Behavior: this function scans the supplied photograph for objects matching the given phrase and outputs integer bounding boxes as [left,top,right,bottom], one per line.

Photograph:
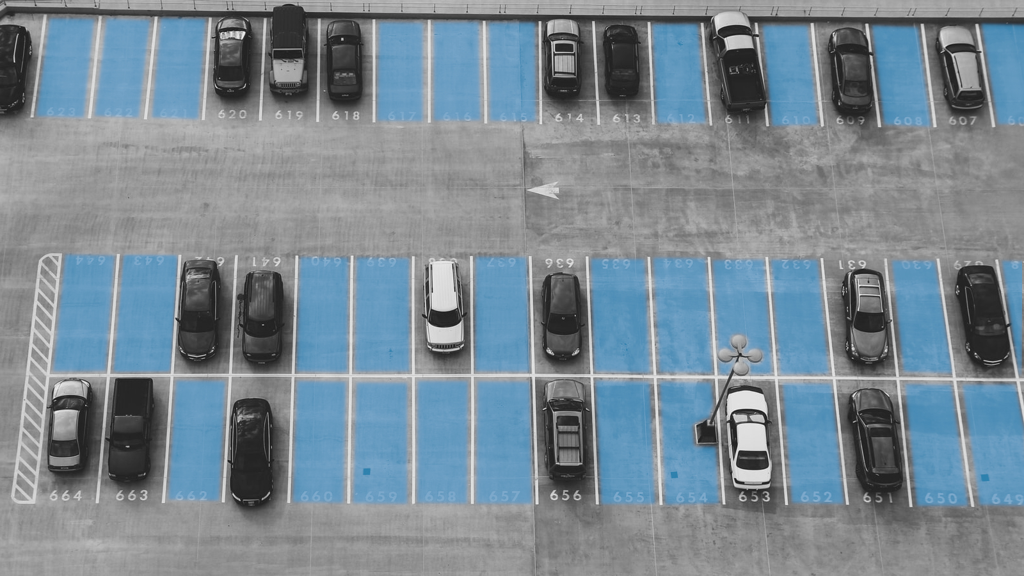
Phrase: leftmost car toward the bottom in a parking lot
[43,379,94,472]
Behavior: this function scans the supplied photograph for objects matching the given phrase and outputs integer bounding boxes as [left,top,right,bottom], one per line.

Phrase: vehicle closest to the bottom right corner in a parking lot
[848,389,906,491]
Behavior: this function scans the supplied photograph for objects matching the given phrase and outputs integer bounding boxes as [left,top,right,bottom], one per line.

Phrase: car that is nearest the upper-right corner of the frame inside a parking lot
[935,27,984,110]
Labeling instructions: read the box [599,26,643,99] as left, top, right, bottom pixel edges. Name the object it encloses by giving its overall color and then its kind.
black car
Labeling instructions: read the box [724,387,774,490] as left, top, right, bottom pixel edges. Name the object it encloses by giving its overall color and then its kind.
white car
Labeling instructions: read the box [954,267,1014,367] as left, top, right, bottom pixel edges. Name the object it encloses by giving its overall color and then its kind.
black car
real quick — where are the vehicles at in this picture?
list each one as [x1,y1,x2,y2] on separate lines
[224,399,277,507]
[541,379,591,479]
[43,379,94,472]
[321,22,367,101]
[540,274,587,361]
[237,270,286,365]
[848,389,906,491]
[840,271,894,365]
[172,262,224,361]
[102,377,156,483]
[599,26,643,99]
[210,19,255,97]
[266,7,308,94]
[419,261,470,355]
[541,20,586,98]
[935,27,984,110]
[0,28,32,113]
[954,267,1014,367]
[724,387,774,490]
[828,29,875,114]
[711,12,769,114]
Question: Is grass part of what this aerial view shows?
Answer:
No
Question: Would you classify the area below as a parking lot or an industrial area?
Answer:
parking lot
